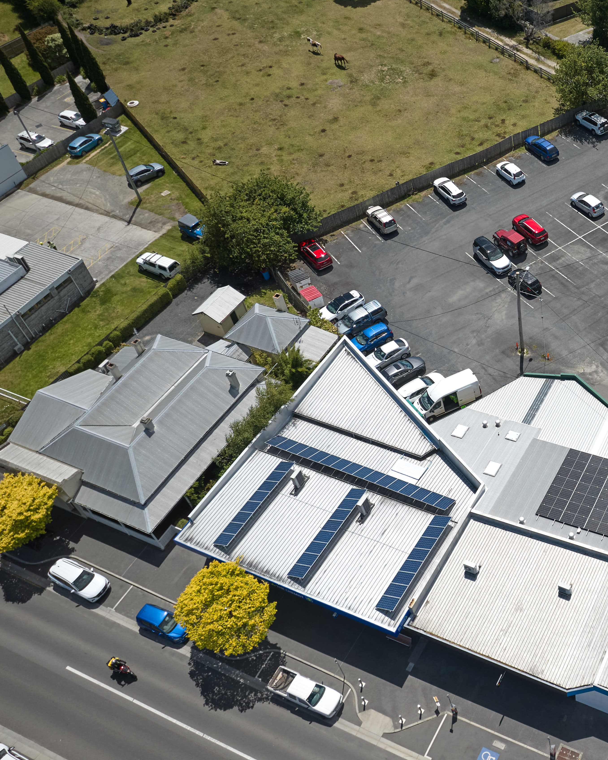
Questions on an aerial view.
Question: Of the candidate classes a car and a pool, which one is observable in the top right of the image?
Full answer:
There is a car in the top right of the image.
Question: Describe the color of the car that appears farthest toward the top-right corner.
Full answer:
The car that appears farthest toward the top-right corner is blue.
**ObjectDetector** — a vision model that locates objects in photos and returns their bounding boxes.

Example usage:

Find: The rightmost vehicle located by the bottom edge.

[257,660,348,723]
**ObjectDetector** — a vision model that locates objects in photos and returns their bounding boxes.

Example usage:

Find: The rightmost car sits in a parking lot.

[571,190,608,217]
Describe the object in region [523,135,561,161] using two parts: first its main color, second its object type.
blue car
